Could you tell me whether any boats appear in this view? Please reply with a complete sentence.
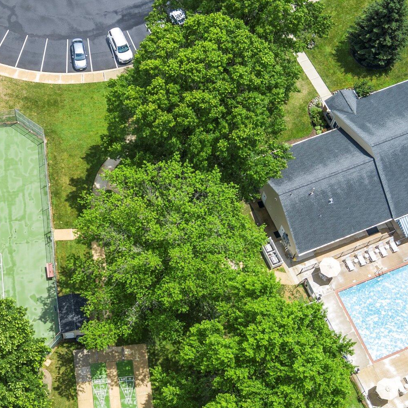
No, there's no boat here.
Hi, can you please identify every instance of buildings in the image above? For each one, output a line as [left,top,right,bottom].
[57,297,90,341]
[250,80,408,258]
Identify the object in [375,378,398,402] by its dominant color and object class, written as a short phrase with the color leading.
white umbrella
